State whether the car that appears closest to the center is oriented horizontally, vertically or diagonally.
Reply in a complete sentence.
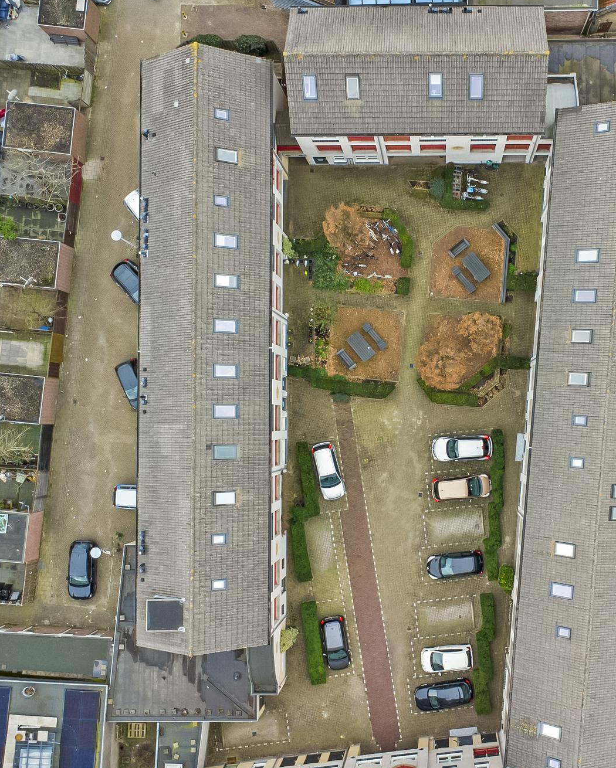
From this overhead view, the car that appears closest to the center appears to run vertically.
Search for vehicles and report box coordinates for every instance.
[420,645,475,674]
[432,434,493,464]
[414,678,475,712]
[124,188,137,218]
[115,358,136,416]
[114,257,136,305]
[320,616,351,668]
[432,474,492,502]
[313,441,344,502]
[66,539,99,599]
[110,484,135,508]
[425,550,485,580]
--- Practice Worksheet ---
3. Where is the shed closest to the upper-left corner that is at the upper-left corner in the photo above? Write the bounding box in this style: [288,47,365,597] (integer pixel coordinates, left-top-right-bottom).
[36,0,101,43]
